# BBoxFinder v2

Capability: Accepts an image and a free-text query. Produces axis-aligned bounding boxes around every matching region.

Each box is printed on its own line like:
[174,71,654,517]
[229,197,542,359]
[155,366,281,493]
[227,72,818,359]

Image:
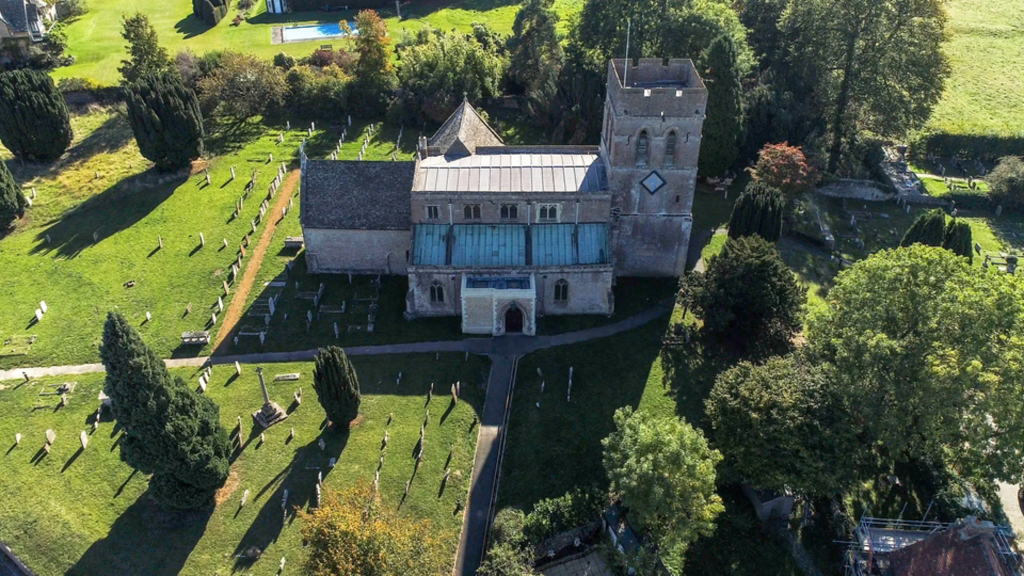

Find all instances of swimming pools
[272,22,362,44]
